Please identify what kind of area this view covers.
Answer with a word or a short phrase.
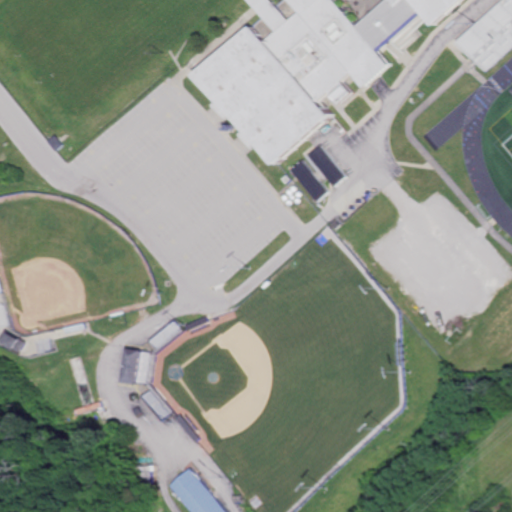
sports ground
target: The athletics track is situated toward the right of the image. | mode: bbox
[422,57,512,233]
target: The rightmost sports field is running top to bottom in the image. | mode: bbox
[482,83,512,209]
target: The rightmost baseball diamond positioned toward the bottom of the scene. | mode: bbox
[153,224,402,512]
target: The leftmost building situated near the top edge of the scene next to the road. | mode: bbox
[187,0,474,166]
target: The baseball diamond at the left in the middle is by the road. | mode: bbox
[0,192,158,336]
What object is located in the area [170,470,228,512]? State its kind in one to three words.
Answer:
building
